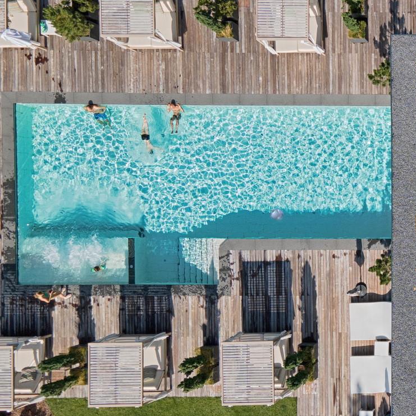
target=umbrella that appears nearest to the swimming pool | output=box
[349,284,367,298]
